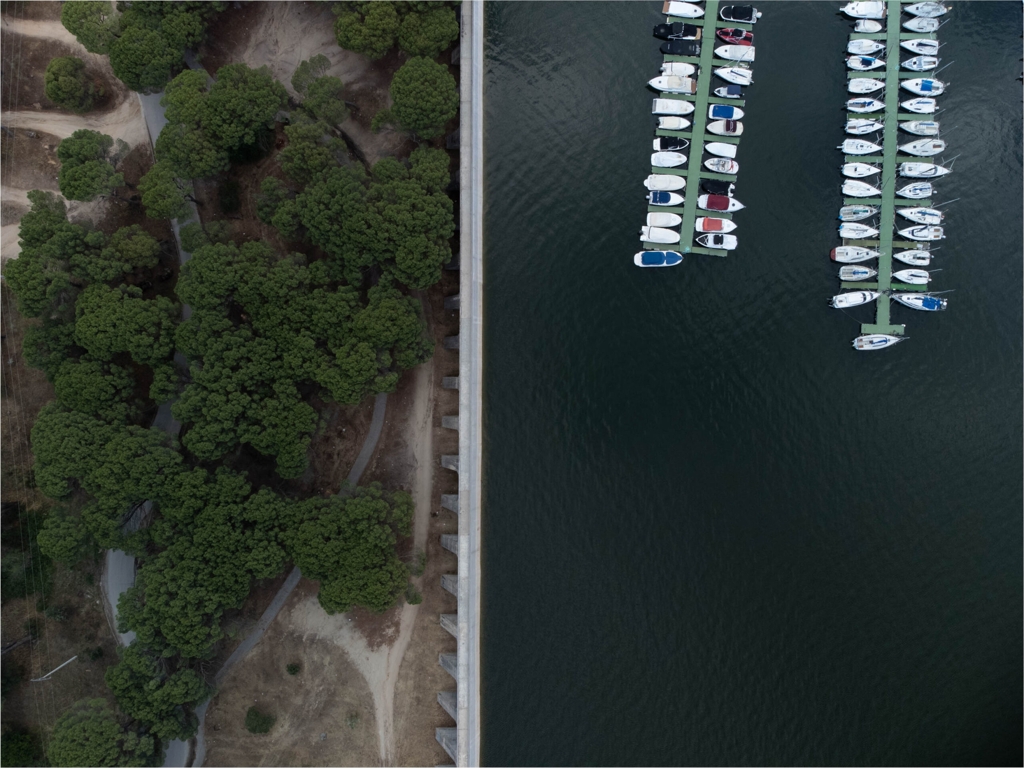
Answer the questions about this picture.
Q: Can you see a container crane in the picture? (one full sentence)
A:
No, the picture doesn't show any container crane.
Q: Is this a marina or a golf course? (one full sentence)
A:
The area seen from above is a marina.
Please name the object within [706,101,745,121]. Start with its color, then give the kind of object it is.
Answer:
blue boat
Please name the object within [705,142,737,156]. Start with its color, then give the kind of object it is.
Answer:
white boat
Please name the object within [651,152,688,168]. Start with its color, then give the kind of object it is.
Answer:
white boat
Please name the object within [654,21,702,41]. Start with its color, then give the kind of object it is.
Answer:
black boat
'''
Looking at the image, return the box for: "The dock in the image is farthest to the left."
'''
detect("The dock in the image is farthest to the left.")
[643,0,753,257]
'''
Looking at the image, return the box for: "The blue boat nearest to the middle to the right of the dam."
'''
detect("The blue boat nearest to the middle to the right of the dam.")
[634,250,684,266]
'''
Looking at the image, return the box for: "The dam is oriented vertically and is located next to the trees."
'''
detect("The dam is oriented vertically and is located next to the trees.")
[434,0,484,768]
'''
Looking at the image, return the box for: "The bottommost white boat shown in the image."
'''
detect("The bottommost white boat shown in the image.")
[852,334,913,349]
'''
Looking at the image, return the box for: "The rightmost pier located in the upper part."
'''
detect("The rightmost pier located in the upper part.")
[840,0,937,335]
